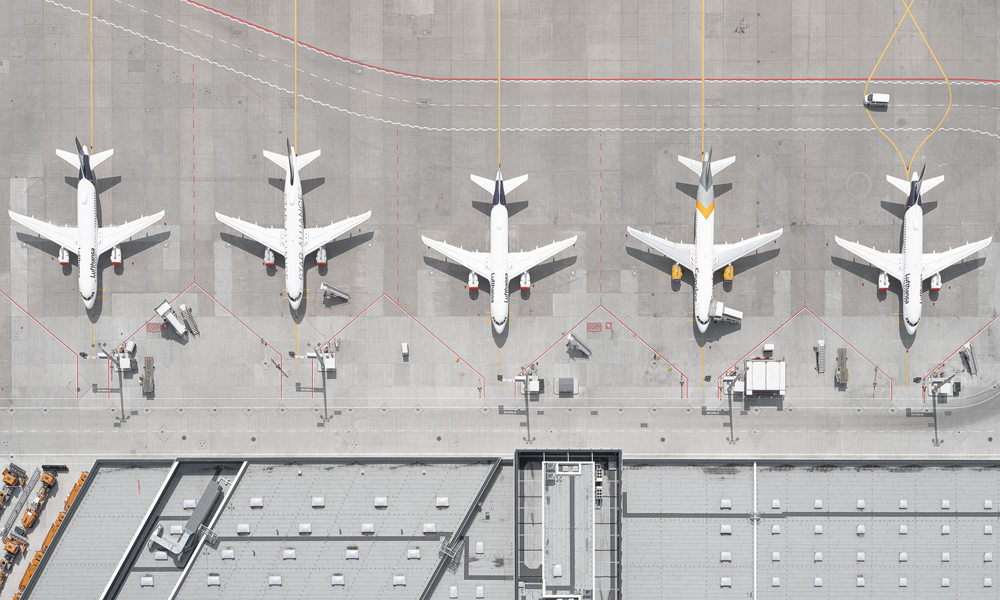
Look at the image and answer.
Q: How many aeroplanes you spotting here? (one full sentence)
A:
In total, 5 aeroplanes can be seen.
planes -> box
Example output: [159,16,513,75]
[624,143,782,333]
[835,164,992,335]
[215,140,373,310]
[7,138,165,309]
[421,162,578,334]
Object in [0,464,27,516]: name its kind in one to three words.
vehicle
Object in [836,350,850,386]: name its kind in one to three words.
vehicle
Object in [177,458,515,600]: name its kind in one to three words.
building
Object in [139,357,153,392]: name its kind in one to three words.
work vehicle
